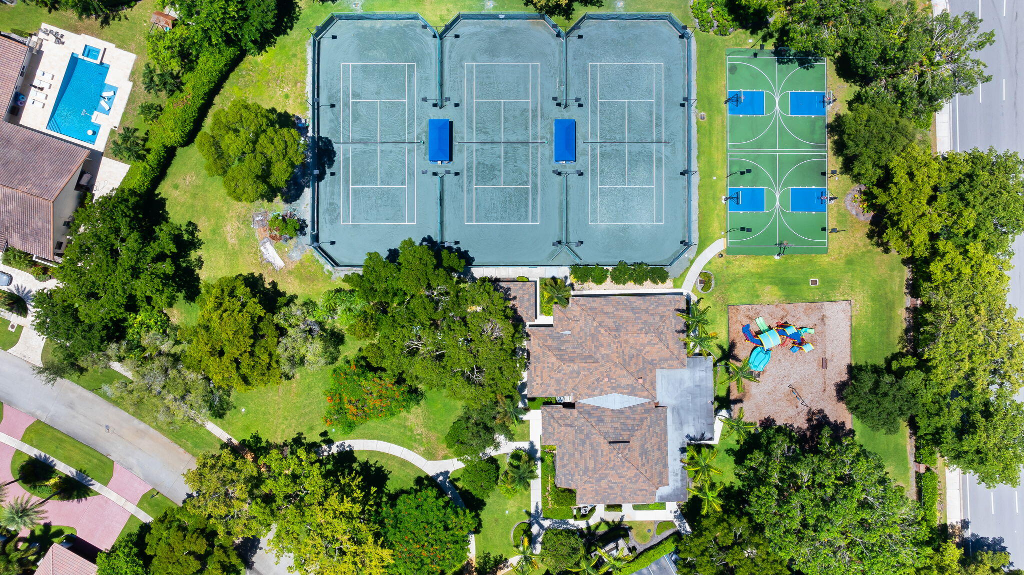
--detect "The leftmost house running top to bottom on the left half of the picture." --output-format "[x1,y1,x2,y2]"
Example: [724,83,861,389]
[0,35,95,269]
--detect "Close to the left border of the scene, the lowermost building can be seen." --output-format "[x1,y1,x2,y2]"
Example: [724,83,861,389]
[37,541,104,575]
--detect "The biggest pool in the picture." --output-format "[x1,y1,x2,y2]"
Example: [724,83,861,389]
[46,52,118,144]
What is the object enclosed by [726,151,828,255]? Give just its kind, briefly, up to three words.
basketball court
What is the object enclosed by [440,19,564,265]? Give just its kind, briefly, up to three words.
tennis court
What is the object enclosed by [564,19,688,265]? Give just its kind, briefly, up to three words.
tennis court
